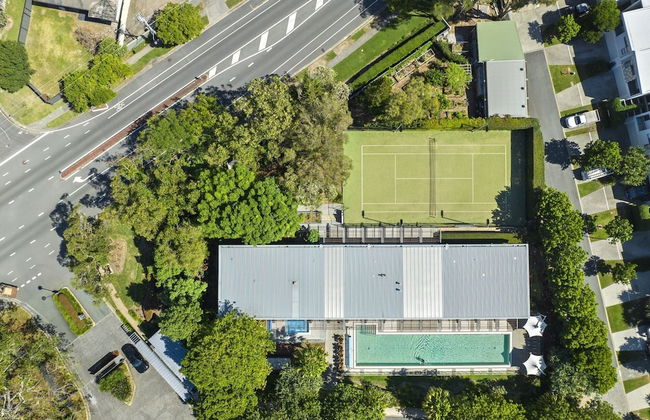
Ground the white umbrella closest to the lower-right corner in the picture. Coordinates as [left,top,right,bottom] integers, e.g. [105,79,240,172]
[523,353,547,379]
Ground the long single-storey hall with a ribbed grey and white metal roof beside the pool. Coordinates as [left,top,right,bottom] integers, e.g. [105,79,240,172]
[218,243,530,320]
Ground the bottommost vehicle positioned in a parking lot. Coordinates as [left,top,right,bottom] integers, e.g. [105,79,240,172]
[120,343,147,373]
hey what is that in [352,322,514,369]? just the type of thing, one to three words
swimming pool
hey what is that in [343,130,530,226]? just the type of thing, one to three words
tennis court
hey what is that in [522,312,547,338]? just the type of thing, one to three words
umbrella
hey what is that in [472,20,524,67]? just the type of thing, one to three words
shed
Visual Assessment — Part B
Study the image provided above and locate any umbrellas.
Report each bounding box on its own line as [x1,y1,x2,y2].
[522,312,547,338]
[523,353,547,379]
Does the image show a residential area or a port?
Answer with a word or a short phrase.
residential area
